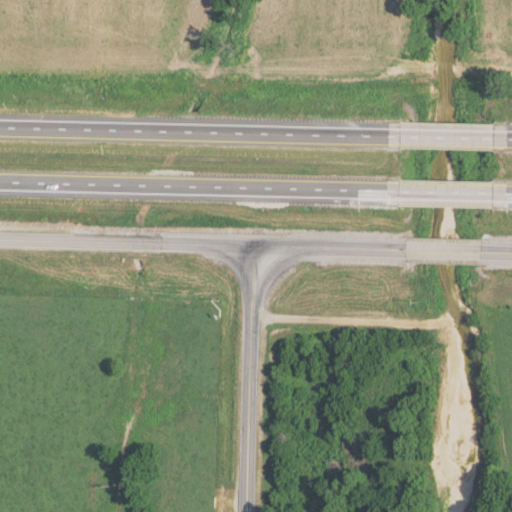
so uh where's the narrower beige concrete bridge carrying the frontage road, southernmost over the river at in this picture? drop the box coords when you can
[404,238,483,265]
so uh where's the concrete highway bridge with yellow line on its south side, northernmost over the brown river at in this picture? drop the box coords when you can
[388,122,508,152]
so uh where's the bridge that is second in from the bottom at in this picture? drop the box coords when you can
[388,180,507,210]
